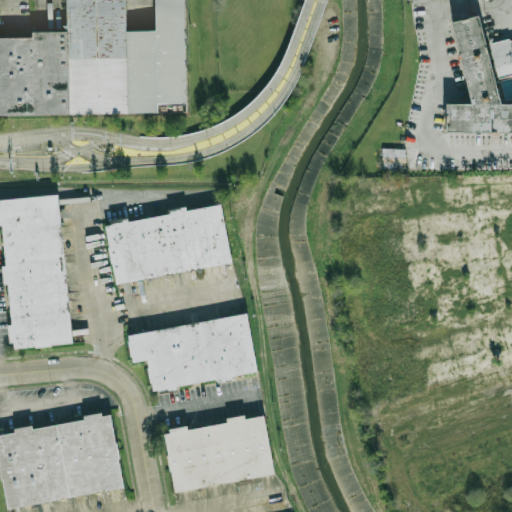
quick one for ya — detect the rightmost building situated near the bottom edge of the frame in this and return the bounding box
[165,416,274,494]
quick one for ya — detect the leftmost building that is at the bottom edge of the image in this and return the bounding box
[0,414,124,510]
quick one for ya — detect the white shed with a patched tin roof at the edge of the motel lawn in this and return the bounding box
[382,148,407,168]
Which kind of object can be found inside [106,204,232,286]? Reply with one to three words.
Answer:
building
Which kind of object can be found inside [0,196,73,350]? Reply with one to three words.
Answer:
building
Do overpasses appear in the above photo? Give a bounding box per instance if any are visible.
[138,0,328,167]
